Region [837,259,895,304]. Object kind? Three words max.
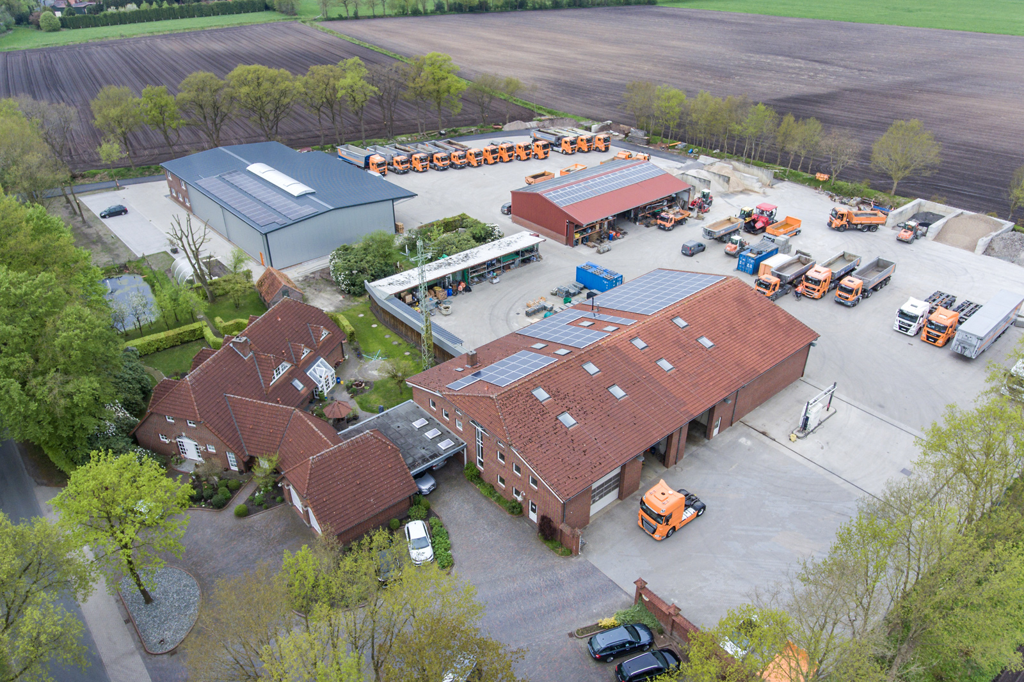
truck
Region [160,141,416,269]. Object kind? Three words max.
building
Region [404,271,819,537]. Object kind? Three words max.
building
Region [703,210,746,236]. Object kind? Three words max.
trailer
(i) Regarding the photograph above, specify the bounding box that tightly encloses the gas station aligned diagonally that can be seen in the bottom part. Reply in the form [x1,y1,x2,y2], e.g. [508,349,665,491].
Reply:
[796,386,840,442]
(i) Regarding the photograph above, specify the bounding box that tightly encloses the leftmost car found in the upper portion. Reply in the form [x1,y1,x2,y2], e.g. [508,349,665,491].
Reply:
[99,203,128,216]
